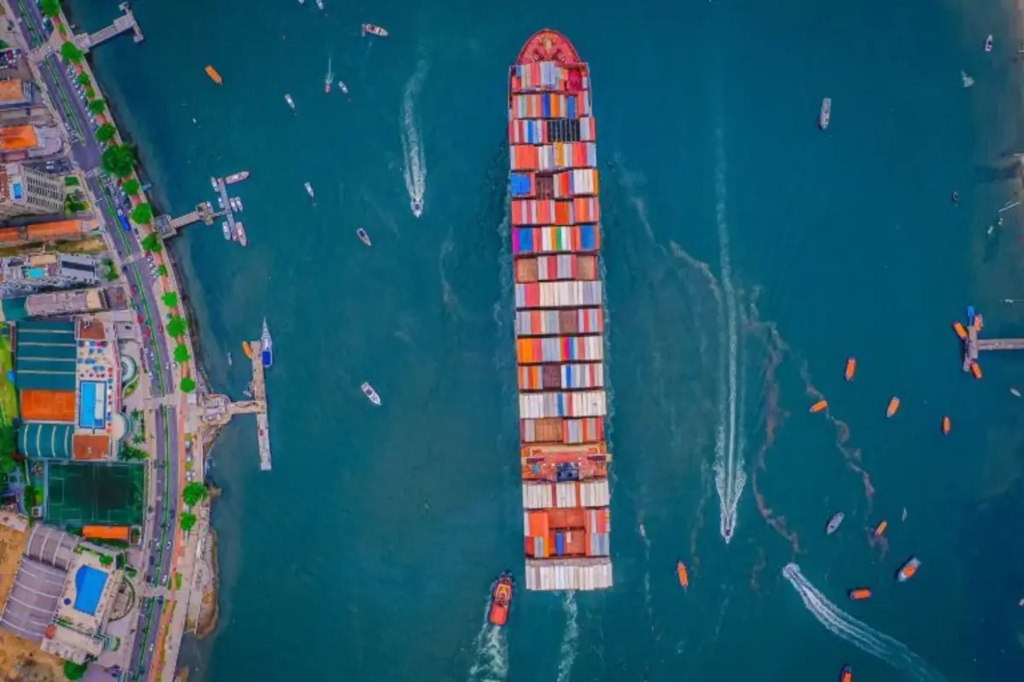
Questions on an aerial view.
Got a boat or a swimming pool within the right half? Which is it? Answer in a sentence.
You can see a boat within the right half.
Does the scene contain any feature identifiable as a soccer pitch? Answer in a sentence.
Yes, a soccer pitch appears in the view.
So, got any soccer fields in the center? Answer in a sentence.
No, looking in the center, there is no soccer field.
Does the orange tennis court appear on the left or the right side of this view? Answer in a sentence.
The orange tennis court appears in the left half of the scene.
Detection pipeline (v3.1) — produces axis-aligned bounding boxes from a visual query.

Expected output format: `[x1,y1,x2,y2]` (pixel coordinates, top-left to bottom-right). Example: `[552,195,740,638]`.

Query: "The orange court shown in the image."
[22,390,75,421]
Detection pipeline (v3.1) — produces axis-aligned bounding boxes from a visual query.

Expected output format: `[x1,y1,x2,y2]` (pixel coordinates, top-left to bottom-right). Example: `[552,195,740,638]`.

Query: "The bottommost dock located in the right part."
[959,306,1024,372]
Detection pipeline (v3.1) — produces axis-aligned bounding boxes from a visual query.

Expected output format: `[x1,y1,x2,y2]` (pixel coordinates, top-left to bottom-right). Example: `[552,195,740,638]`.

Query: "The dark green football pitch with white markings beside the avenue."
[42,463,144,526]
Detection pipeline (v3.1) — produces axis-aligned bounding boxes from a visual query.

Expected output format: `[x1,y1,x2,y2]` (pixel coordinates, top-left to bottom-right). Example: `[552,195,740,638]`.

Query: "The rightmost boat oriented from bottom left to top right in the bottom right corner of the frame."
[899,556,922,581]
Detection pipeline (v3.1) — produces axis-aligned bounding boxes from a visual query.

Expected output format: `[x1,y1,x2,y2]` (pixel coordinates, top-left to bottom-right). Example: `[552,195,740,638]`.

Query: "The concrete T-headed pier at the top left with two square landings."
[73,1,147,54]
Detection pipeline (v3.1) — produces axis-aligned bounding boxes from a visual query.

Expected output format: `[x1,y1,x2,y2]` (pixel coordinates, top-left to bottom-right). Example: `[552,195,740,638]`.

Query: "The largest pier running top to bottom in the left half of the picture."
[230,342,273,470]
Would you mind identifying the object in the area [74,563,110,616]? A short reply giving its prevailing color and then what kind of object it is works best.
blue swimming pool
